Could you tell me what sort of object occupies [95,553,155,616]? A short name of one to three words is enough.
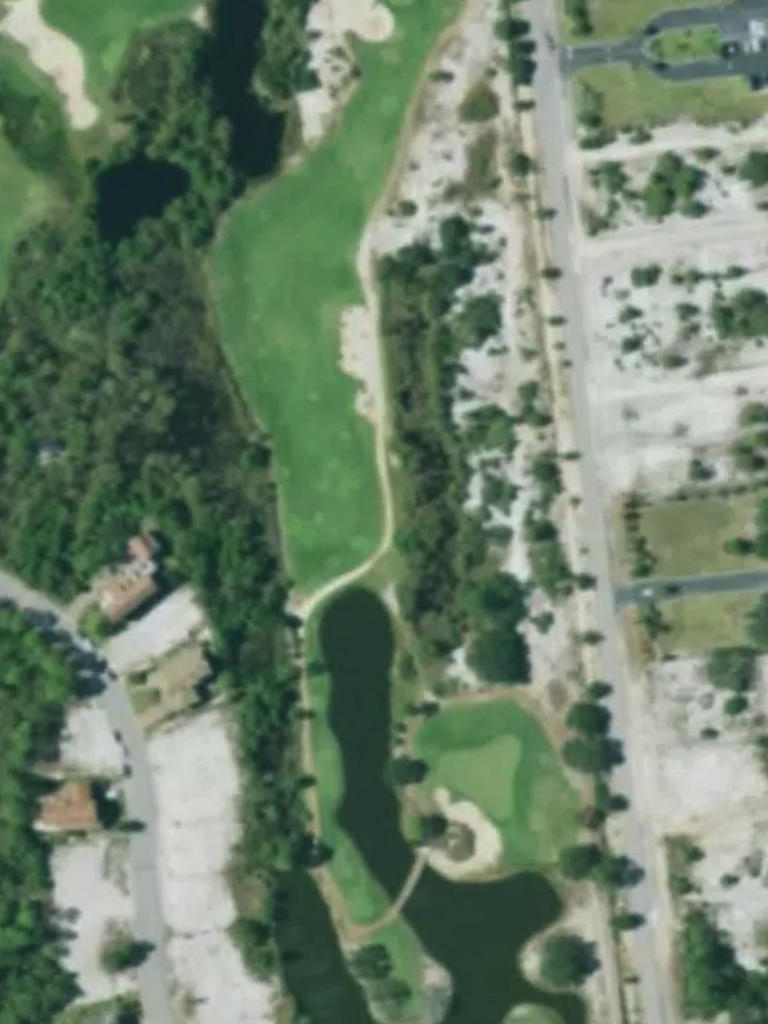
house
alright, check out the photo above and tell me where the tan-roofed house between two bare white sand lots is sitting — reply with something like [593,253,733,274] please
[149,649,213,715]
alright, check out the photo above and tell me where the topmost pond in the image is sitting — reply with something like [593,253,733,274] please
[206,0,284,193]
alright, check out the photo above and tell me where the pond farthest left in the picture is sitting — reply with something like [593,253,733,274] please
[96,159,189,242]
